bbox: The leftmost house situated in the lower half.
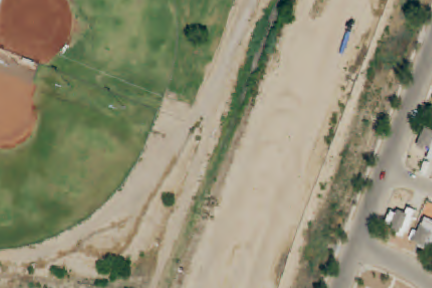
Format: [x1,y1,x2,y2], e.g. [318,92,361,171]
[387,206,416,238]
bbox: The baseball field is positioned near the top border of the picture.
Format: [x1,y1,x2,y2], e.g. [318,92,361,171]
[0,0,174,96]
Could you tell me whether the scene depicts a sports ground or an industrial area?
sports ground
